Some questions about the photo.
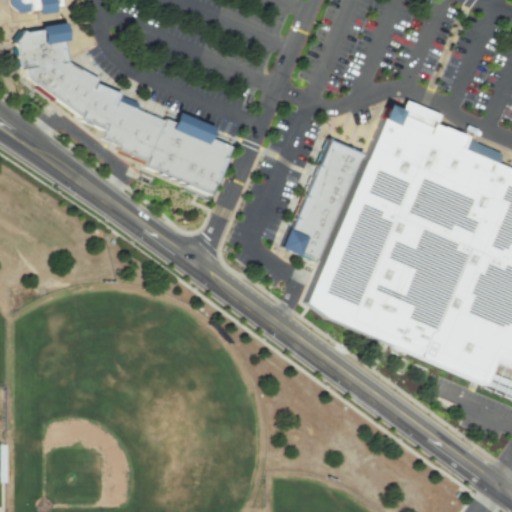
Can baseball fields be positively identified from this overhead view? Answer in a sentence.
Yes, a baseball field appears in the view.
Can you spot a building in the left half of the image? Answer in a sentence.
Yes, a building can be seen in the left half of the image.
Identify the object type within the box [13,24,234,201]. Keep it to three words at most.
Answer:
building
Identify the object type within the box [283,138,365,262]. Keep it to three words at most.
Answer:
building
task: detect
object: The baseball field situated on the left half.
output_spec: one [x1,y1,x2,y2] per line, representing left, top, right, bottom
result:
[14,284,266,512]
